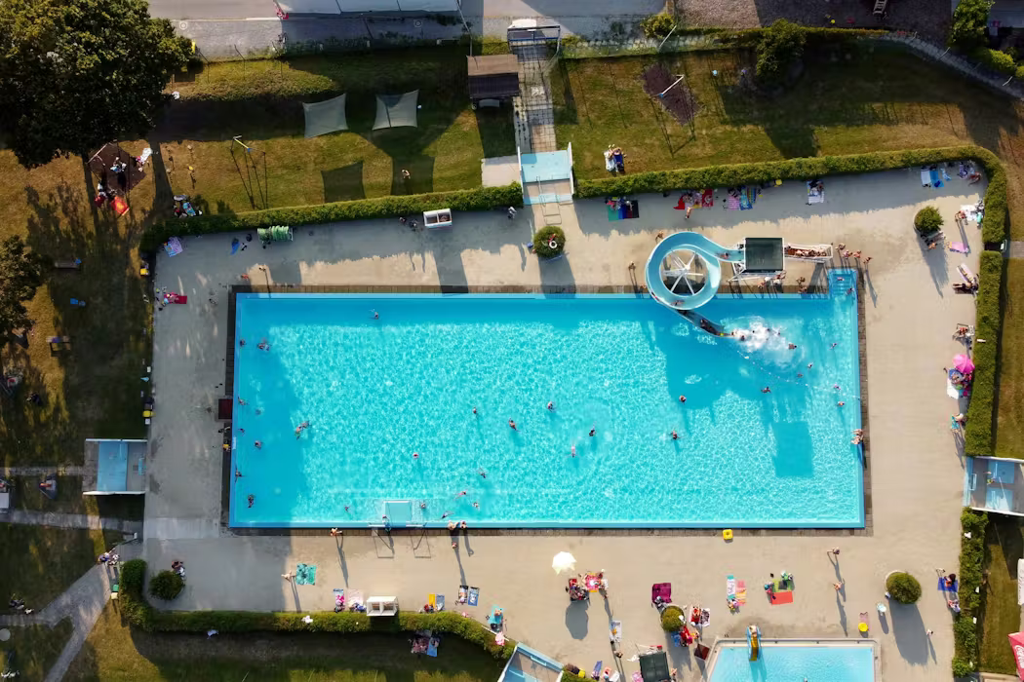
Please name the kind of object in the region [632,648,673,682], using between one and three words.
building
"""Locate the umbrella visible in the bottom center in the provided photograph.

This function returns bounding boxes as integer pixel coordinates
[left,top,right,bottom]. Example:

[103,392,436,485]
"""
[551,549,577,575]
